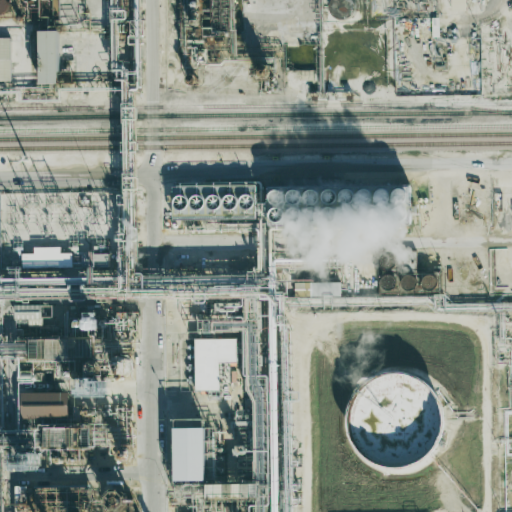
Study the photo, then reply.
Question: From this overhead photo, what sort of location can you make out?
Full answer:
What you see here is an industrial area.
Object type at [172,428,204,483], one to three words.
shed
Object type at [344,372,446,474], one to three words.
storage tank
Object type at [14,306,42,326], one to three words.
building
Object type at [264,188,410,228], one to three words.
cooling tower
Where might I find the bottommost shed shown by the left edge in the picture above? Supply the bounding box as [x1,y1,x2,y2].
[20,392,68,419]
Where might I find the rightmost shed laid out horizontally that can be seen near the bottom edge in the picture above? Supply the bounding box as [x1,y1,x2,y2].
[204,484,248,496]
